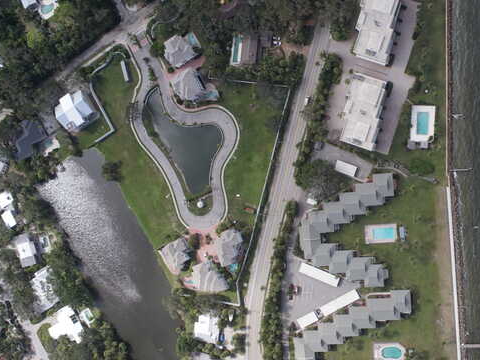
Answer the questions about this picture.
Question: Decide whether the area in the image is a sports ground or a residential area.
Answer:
residential area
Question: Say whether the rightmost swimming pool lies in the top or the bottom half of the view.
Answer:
top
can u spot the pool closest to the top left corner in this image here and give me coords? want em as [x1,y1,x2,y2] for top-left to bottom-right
[38,0,58,18]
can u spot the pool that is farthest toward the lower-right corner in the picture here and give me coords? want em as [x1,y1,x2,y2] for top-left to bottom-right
[373,342,407,360]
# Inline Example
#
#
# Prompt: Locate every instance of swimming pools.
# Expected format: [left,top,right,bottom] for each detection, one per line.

[227,264,240,272]
[42,139,59,151]
[373,342,407,360]
[366,223,397,244]
[204,82,219,100]
[80,309,95,324]
[40,235,52,253]
[182,276,195,289]
[411,105,436,143]
[231,36,241,64]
